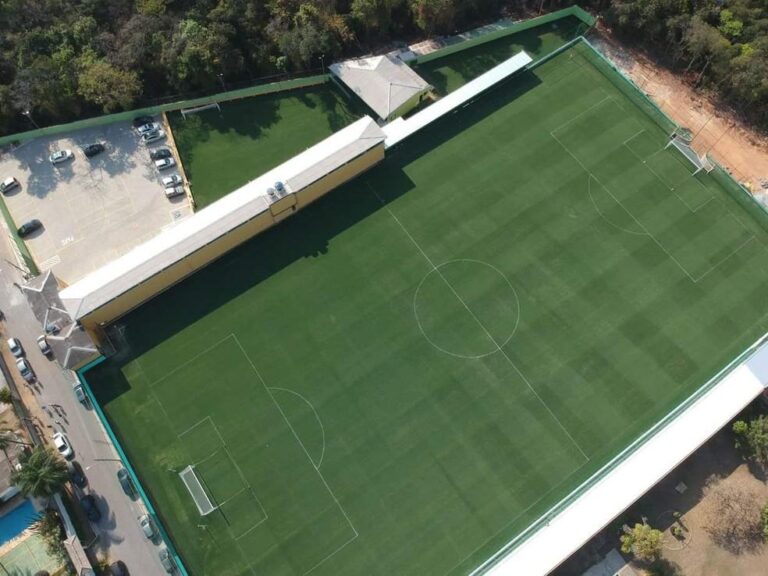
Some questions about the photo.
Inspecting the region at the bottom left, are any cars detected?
Yes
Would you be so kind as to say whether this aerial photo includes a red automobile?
No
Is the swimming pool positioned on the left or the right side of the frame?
left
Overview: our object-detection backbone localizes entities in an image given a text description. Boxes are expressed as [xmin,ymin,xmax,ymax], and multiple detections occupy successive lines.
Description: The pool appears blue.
[0,496,43,552]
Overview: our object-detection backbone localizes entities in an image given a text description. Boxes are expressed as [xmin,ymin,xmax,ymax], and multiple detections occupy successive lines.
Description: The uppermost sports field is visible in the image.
[166,15,592,212]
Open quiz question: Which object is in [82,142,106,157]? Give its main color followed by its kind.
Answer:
black car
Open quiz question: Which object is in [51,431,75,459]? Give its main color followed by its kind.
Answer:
white car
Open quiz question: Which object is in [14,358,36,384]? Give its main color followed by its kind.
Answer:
gray car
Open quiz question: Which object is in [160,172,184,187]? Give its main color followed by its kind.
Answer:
white car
